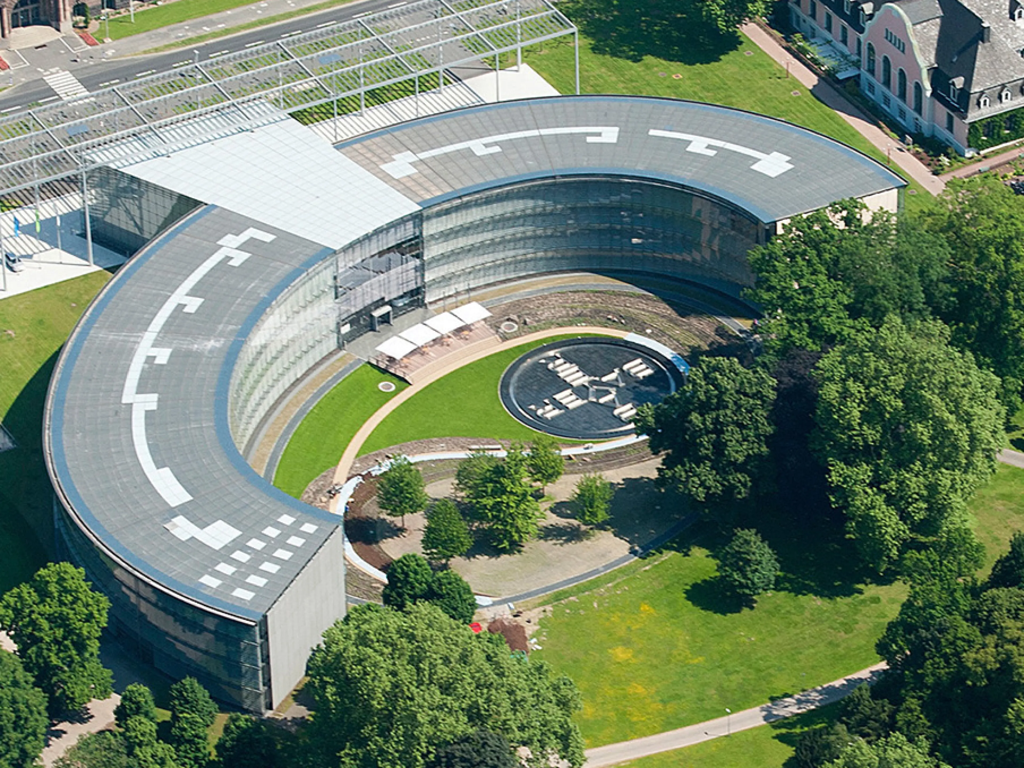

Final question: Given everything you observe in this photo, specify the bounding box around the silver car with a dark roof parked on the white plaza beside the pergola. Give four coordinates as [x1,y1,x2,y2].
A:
[3,249,24,267]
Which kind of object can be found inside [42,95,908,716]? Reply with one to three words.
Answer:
building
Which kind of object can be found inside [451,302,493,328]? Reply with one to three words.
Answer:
umbrella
